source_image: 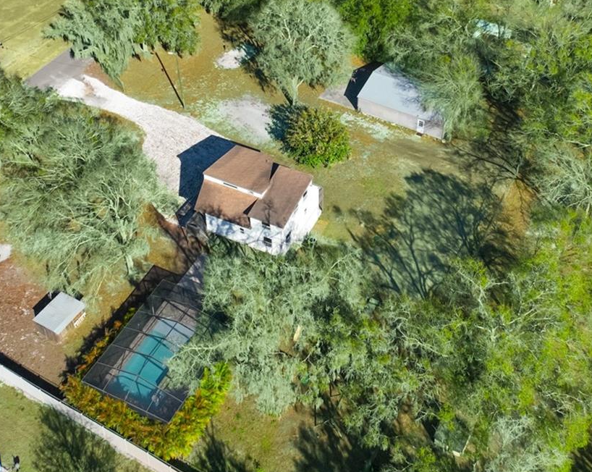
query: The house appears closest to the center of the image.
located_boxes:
[192,145,323,255]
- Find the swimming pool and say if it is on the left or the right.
left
